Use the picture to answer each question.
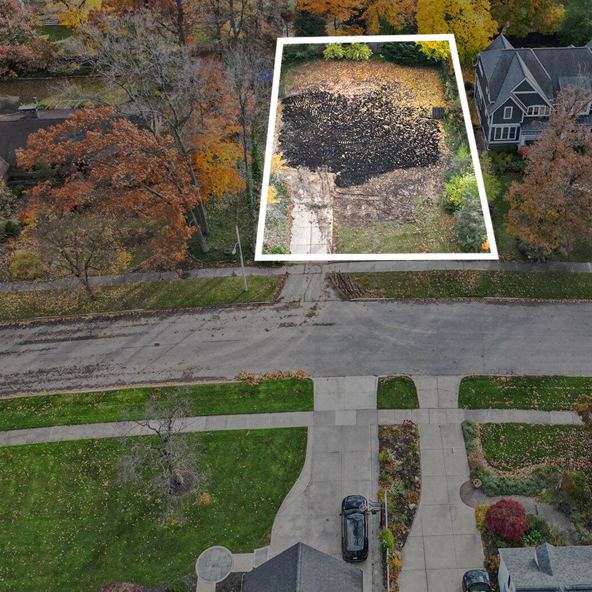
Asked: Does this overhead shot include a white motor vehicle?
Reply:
No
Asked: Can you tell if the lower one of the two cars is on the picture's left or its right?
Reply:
right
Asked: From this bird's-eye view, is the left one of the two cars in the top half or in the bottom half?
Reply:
bottom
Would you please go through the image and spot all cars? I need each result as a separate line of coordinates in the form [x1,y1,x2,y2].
[463,559,496,592]
[341,496,370,564]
